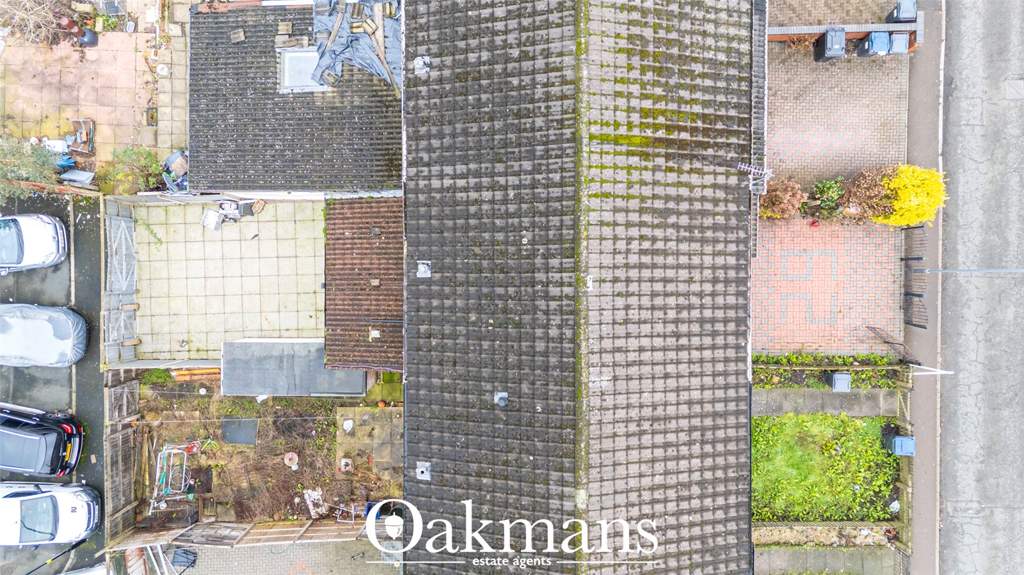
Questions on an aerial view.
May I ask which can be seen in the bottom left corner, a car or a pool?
car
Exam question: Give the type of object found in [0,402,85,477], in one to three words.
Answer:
car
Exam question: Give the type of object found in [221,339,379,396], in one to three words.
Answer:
shed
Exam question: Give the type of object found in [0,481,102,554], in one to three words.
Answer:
car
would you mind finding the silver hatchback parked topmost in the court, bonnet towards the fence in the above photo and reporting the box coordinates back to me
[0,210,68,274]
